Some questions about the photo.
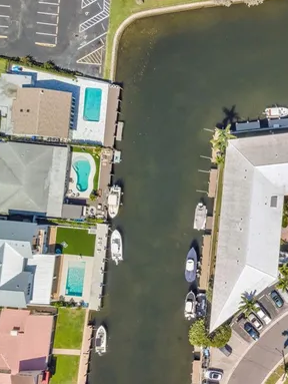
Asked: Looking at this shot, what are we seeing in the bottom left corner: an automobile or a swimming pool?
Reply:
swimming pool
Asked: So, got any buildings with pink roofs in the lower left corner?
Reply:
Yes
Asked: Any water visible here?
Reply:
Yes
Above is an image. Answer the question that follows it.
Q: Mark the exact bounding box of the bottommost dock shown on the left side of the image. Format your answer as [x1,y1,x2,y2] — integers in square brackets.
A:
[77,325,96,384]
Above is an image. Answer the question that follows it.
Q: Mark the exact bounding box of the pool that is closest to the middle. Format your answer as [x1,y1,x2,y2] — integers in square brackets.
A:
[72,159,92,193]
